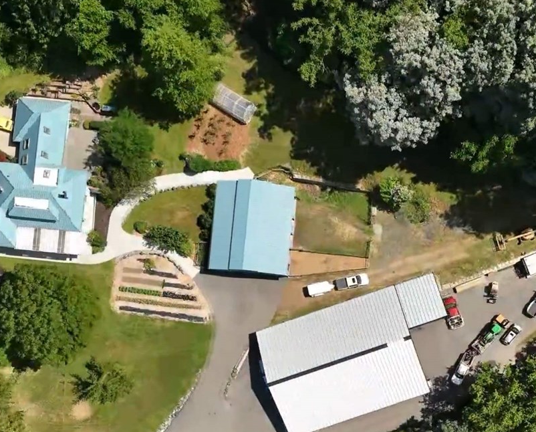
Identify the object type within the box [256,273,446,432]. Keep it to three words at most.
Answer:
barn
